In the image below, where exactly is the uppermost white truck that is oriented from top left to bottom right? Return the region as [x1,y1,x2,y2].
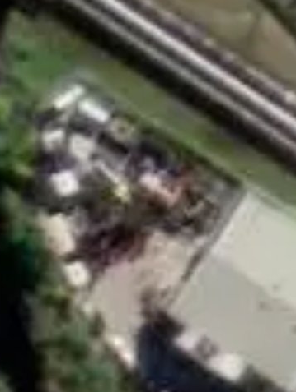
[75,95,113,127]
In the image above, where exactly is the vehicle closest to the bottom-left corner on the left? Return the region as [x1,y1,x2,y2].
[64,261,90,286]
